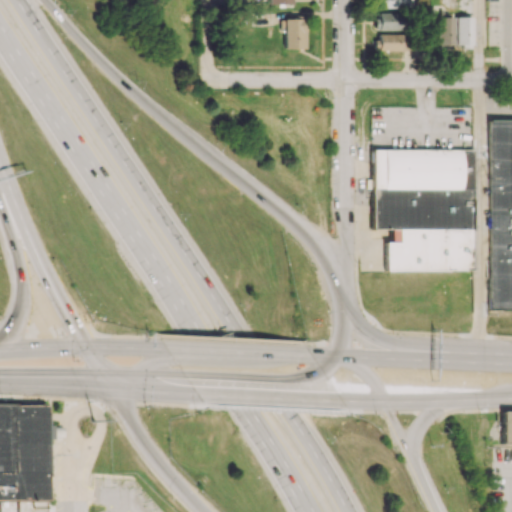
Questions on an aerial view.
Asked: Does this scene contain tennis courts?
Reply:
No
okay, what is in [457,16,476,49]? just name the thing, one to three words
house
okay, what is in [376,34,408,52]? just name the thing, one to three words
house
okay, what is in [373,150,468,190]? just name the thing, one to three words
building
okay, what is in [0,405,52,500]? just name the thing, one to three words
building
